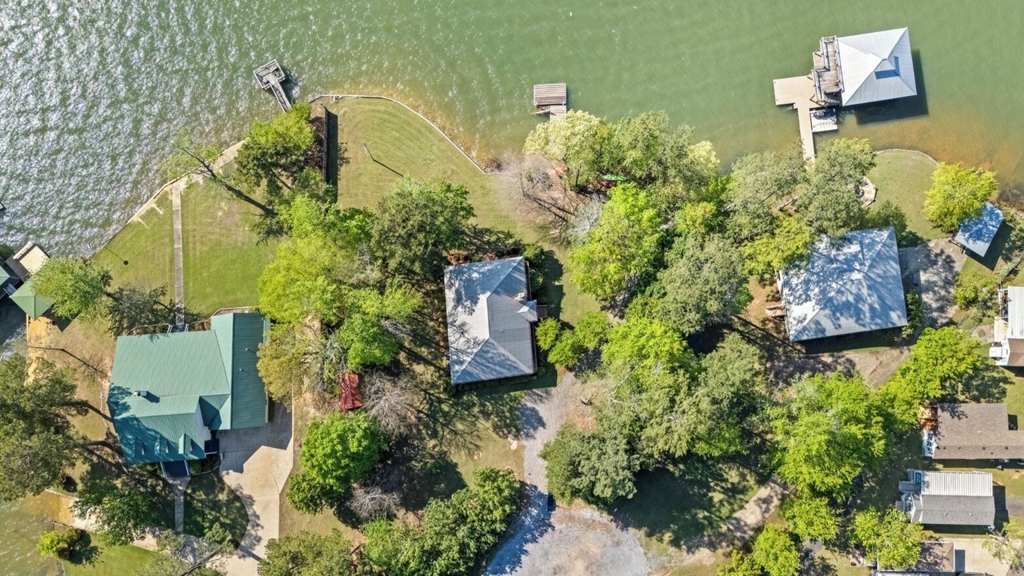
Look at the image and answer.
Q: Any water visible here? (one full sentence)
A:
Yes, some water is visible.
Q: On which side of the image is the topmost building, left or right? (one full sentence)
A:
The topmost building is on the right side of the image.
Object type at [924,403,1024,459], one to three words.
house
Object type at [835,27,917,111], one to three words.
building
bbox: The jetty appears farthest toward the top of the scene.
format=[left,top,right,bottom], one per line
[253,59,291,111]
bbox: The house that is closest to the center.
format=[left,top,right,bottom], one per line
[444,256,543,384]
